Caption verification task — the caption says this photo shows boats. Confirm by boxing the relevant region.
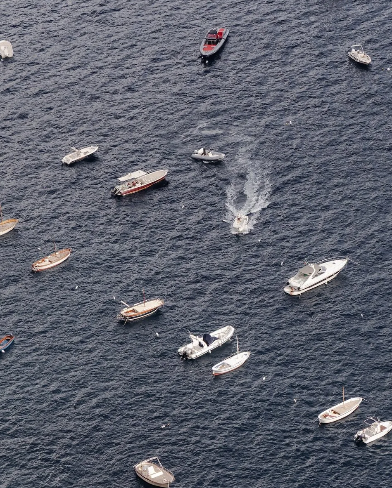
[188,149,225,159]
[233,213,248,231]
[0,40,13,56]
[135,455,172,488]
[175,326,239,361]
[281,254,358,299]
[202,26,230,59]
[30,238,72,273]
[112,168,167,196]
[347,43,371,64]
[314,385,369,425]
[212,343,254,377]
[120,288,165,327]
[355,413,392,444]
[0,203,22,236]
[0,334,16,352]
[60,146,101,166]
